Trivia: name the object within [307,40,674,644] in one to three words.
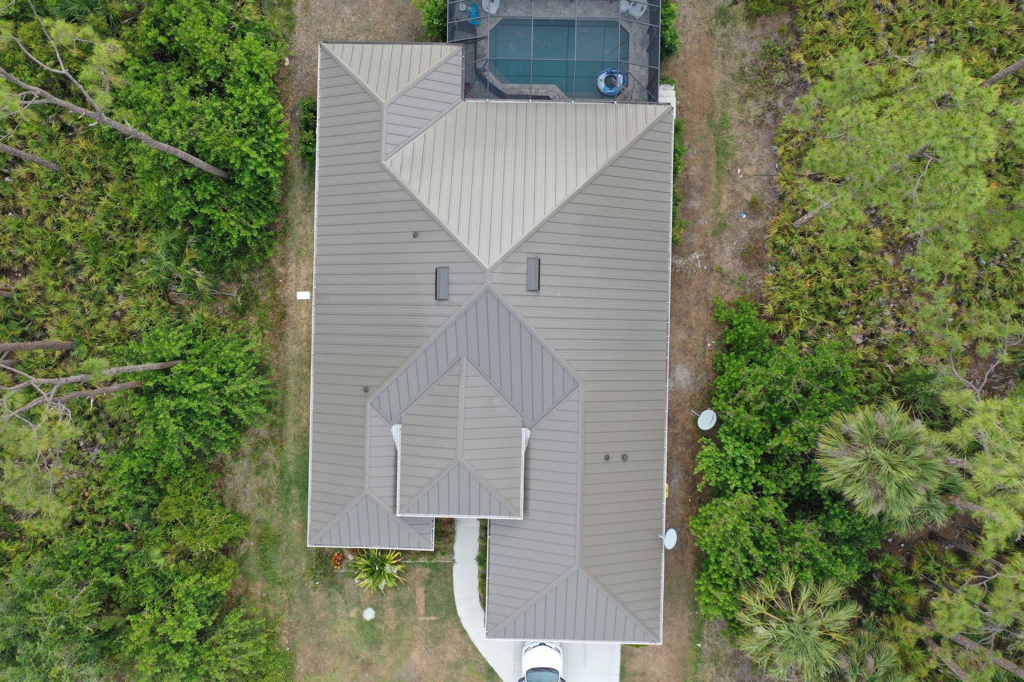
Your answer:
house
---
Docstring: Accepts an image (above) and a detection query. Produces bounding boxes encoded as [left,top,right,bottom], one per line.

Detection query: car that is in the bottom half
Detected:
[518,641,567,682]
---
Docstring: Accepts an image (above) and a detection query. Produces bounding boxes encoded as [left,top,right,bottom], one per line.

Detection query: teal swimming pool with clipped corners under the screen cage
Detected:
[483,11,635,101]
